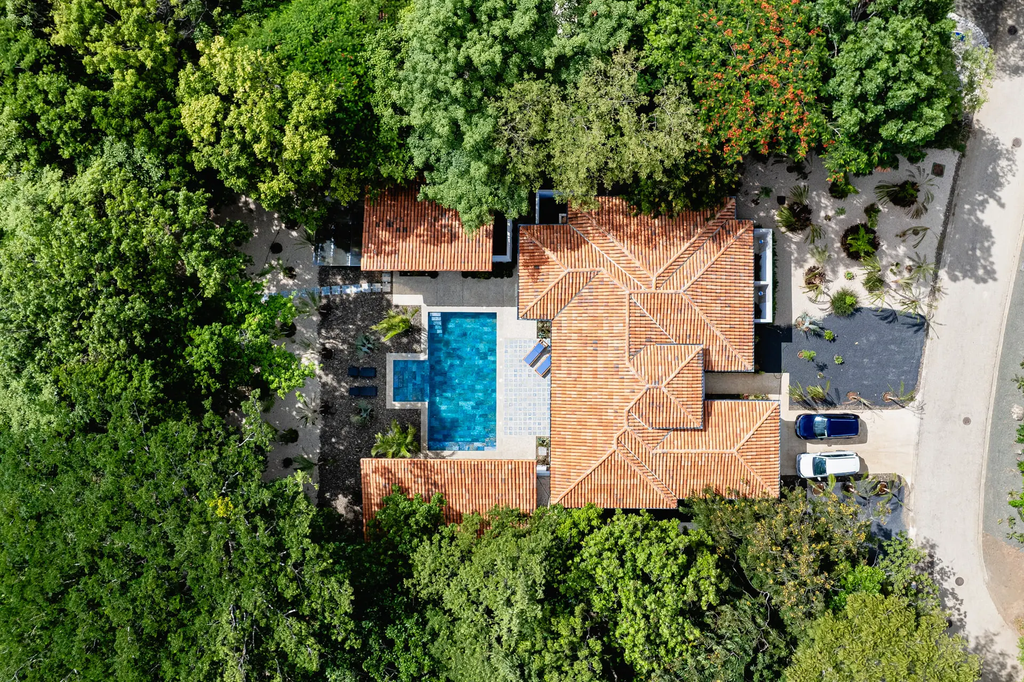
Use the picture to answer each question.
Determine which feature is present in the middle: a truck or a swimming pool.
swimming pool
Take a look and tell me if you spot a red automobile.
No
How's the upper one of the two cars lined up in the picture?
from side to side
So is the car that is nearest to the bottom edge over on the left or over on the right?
right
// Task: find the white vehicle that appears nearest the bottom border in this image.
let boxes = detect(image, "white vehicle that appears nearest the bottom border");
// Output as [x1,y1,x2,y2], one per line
[794,450,860,480]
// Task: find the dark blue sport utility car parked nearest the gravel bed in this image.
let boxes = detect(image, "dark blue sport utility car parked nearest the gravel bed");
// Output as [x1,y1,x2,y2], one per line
[793,412,860,442]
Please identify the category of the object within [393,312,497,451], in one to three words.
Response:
swimming pool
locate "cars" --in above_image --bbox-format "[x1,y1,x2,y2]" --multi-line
[793,412,860,442]
[794,450,860,480]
